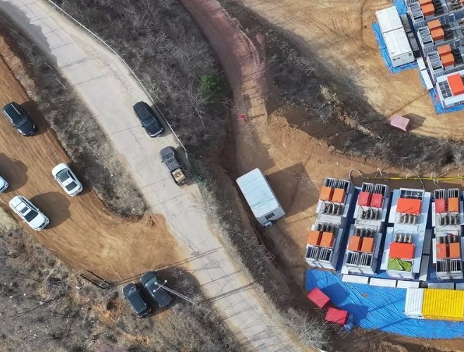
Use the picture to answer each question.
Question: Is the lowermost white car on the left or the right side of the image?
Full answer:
The lowermost white car is on the left side of the image.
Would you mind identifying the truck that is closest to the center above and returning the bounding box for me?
[155,143,196,193]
